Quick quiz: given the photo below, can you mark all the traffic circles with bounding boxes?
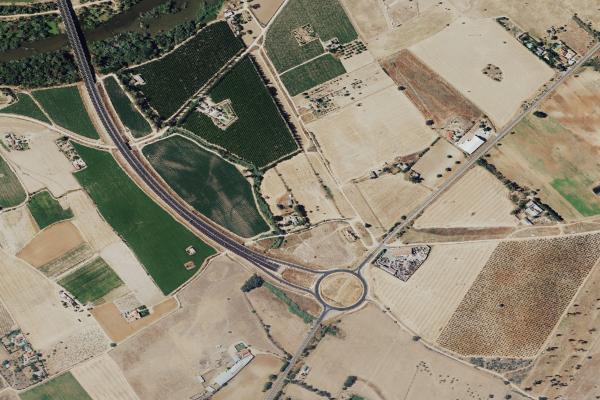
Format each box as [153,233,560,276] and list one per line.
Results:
[312,266,371,326]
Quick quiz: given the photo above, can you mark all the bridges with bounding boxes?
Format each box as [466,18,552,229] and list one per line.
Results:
[56,0,94,86]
